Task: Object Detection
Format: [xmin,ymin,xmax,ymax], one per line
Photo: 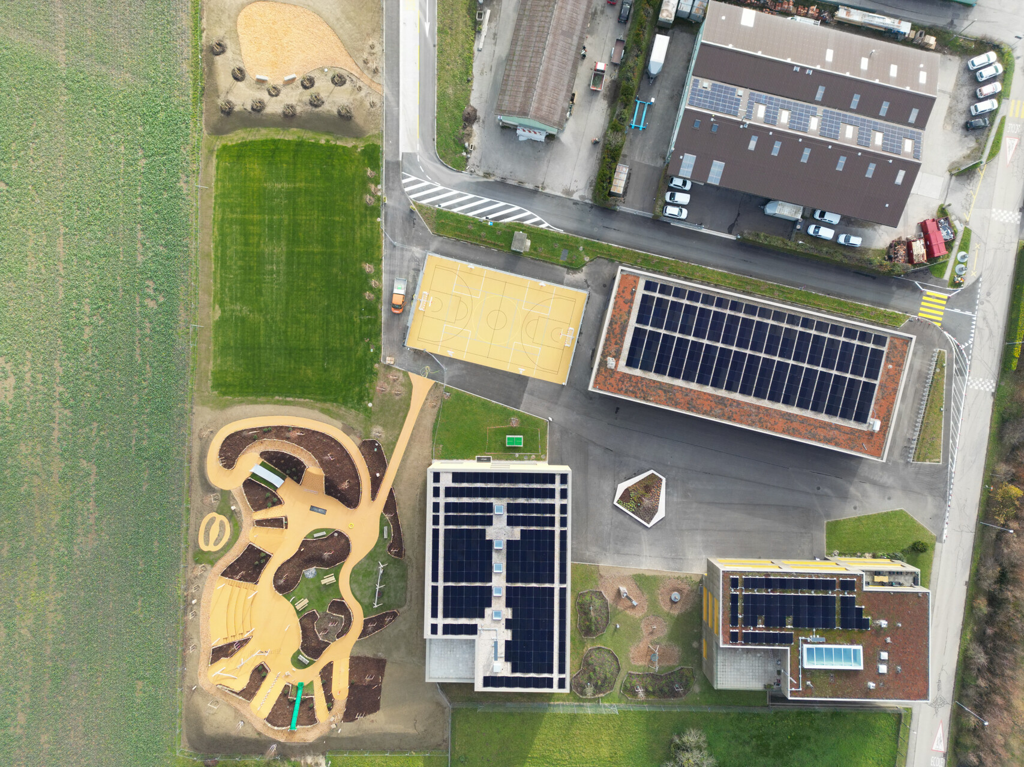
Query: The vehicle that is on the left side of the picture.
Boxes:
[389,277,407,314]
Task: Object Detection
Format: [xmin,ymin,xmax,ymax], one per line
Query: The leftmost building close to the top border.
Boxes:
[495,0,592,135]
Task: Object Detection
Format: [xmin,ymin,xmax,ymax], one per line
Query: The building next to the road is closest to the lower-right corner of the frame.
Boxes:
[698,556,931,702]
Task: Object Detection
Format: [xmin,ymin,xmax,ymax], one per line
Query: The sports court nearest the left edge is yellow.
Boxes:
[404,251,590,385]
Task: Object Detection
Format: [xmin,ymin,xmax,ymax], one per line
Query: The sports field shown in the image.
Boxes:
[211,139,383,415]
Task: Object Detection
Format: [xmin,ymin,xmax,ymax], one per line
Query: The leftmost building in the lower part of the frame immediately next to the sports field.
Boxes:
[424,462,571,693]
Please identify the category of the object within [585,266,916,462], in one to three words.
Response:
building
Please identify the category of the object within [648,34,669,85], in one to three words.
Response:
trailer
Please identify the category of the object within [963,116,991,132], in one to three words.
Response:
car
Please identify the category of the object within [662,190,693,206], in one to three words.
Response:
vehicle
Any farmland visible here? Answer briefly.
Yes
